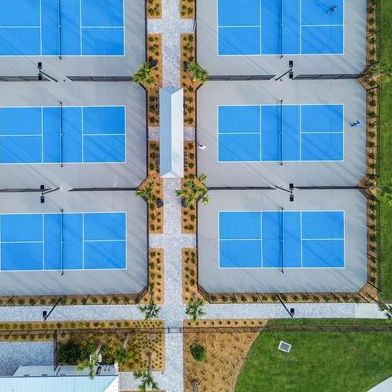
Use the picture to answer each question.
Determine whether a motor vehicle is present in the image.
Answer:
No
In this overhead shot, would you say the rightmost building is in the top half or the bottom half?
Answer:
top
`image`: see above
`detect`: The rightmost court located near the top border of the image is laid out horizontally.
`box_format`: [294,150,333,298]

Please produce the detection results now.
[196,0,369,81]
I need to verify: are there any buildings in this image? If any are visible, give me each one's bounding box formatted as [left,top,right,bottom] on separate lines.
[0,365,121,392]
[159,88,183,178]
